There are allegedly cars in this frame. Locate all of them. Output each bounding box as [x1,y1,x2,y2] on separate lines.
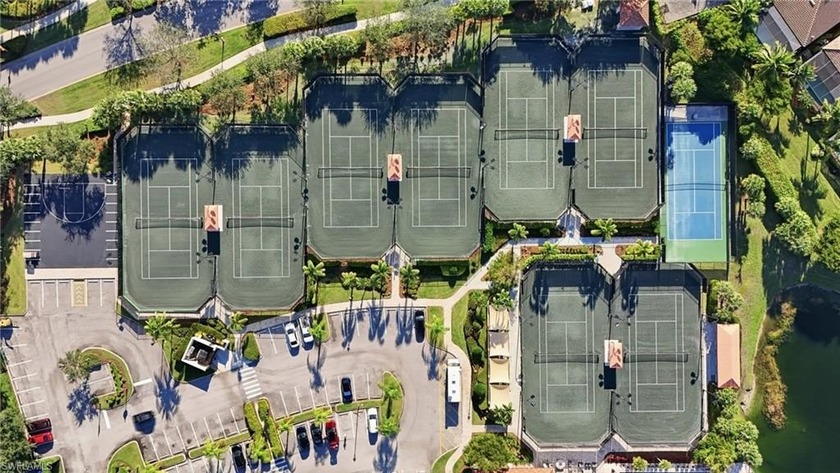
[299,314,314,342]
[414,310,426,334]
[310,419,323,444]
[326,419,339,448]
[295,422,308,449]
[27,417,52,430]
[285,323,299,348]
[132,408,156,422]
[341,376,353,402]
[367,407,377,432]
[232,444,247,470]
[29,431,54,444]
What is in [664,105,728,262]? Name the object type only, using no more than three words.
tennis court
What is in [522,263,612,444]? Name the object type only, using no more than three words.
tennis court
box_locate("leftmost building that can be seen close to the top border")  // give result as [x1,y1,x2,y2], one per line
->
[616,0,650,31]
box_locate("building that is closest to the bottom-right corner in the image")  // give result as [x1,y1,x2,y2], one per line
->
[713,320,740,388]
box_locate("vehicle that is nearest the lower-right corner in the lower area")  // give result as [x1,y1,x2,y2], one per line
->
[445,357,463,403]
